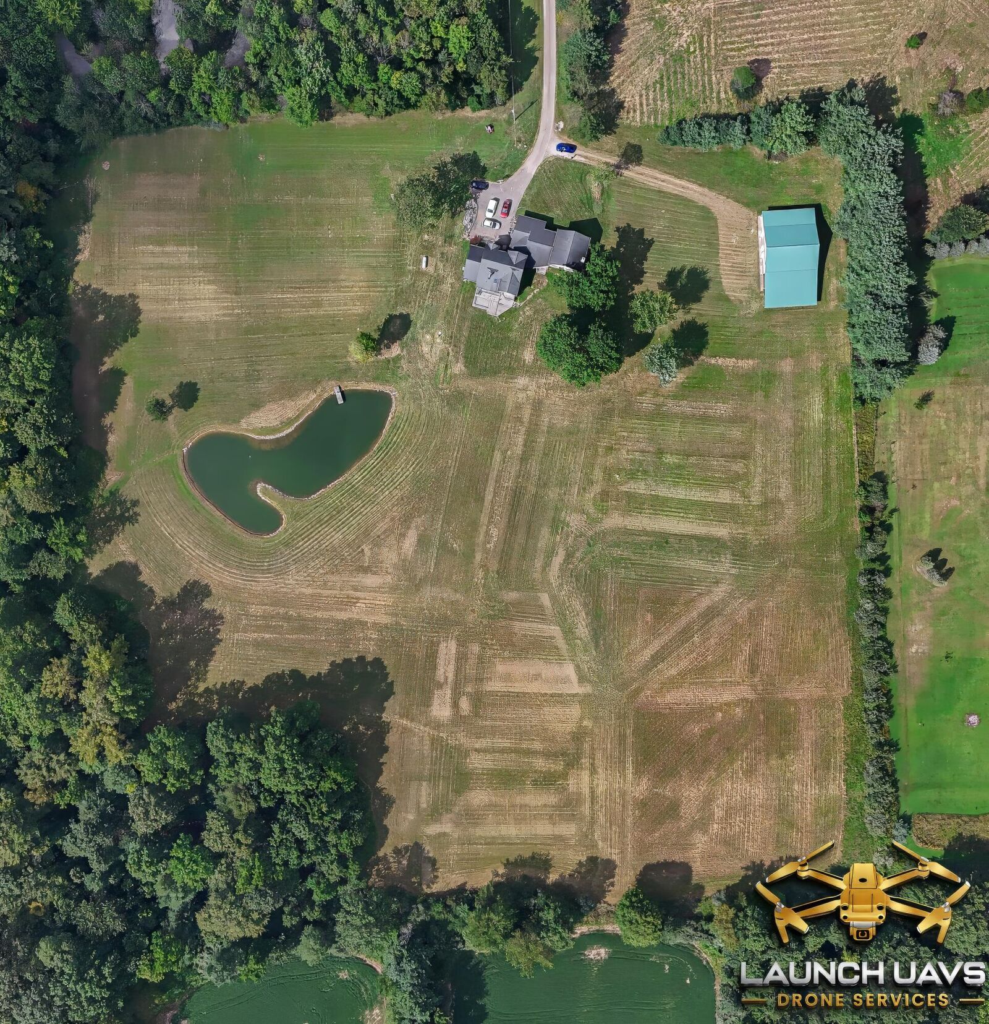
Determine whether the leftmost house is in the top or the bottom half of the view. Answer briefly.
top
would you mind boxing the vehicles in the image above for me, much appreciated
[501,199,511,219]
[471,182,489,191]
[557,144,576,154]
[482,219,501,230]
[486,198,498,219]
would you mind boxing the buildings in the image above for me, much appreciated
[755,208,821,312]
[460,215,591,319]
